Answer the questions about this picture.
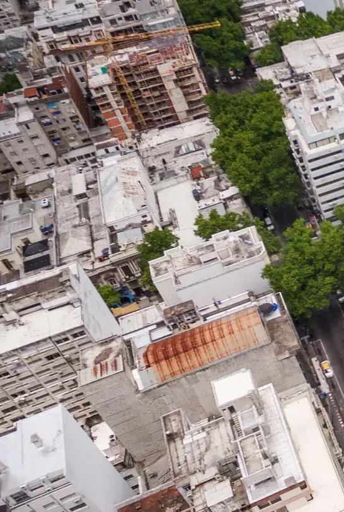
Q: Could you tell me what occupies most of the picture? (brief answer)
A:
buildings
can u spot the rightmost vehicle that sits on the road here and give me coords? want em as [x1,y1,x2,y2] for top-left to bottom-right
[318,359,335,378]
